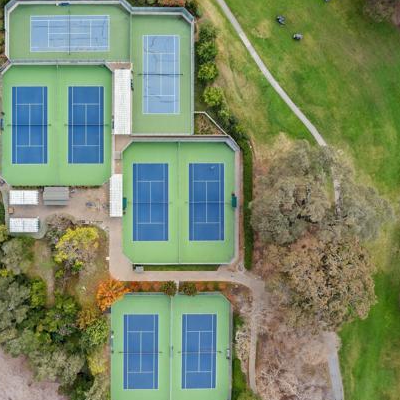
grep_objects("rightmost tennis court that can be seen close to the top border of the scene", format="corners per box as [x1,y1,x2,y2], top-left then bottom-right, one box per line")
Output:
[131,15,191,134]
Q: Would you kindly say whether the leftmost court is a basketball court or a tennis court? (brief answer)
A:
tennis court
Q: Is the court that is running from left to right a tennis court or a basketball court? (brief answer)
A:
tennis court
